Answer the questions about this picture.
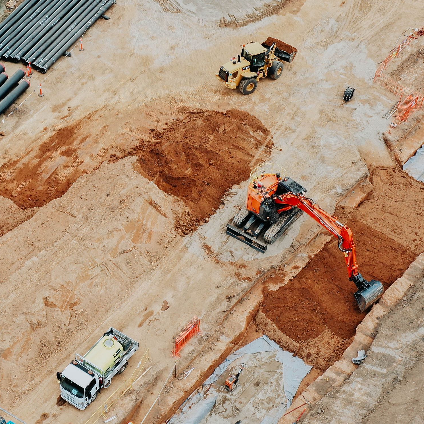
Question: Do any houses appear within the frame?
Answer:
No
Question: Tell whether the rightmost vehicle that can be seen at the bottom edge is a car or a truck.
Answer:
truck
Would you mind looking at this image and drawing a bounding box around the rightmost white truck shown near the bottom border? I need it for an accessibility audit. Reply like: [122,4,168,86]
[49,323,147,416]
